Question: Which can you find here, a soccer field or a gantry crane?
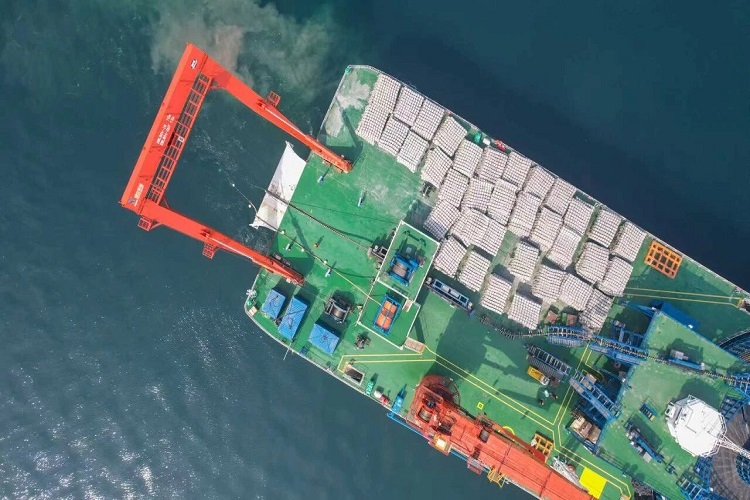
gantry crane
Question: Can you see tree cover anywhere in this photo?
No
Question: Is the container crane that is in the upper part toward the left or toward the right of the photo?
left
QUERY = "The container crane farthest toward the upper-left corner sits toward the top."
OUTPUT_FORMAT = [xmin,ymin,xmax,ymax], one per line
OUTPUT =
[119,43,357,289]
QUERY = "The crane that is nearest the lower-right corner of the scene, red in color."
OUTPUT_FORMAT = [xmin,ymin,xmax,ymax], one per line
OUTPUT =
[404,373,604,500]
